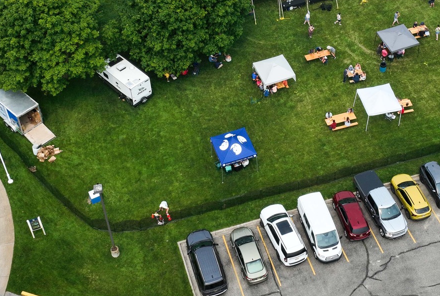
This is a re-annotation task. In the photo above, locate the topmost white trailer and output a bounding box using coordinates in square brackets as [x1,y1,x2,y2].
[95,55,157,113]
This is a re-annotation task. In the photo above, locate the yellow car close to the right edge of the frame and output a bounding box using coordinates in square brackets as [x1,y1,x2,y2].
[387,167,437,227]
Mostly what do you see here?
grass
